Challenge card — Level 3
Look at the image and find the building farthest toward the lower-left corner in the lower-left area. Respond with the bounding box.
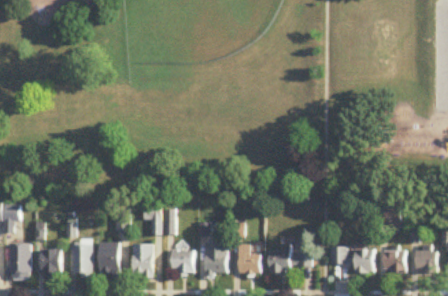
[13,244,34,280]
